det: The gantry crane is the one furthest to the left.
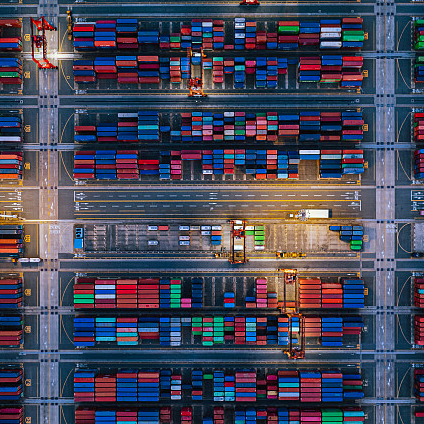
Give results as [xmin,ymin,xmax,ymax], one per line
[29,14,55,68]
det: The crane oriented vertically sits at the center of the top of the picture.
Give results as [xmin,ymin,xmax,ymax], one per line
[187,45,206,98]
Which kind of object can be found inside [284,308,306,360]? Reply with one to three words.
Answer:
container crane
